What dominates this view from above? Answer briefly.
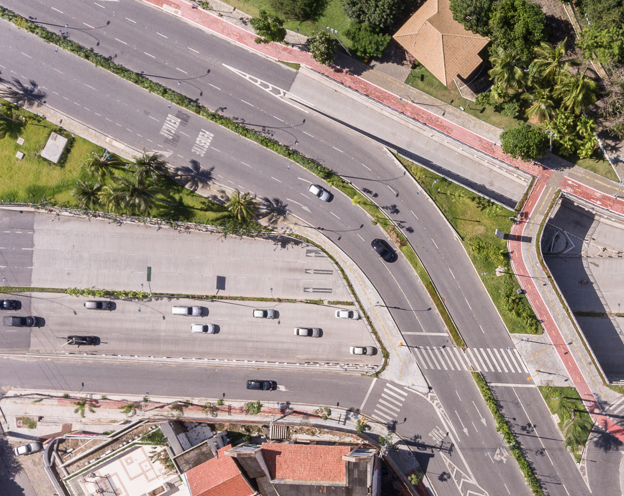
paved ground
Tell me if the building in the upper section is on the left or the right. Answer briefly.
right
